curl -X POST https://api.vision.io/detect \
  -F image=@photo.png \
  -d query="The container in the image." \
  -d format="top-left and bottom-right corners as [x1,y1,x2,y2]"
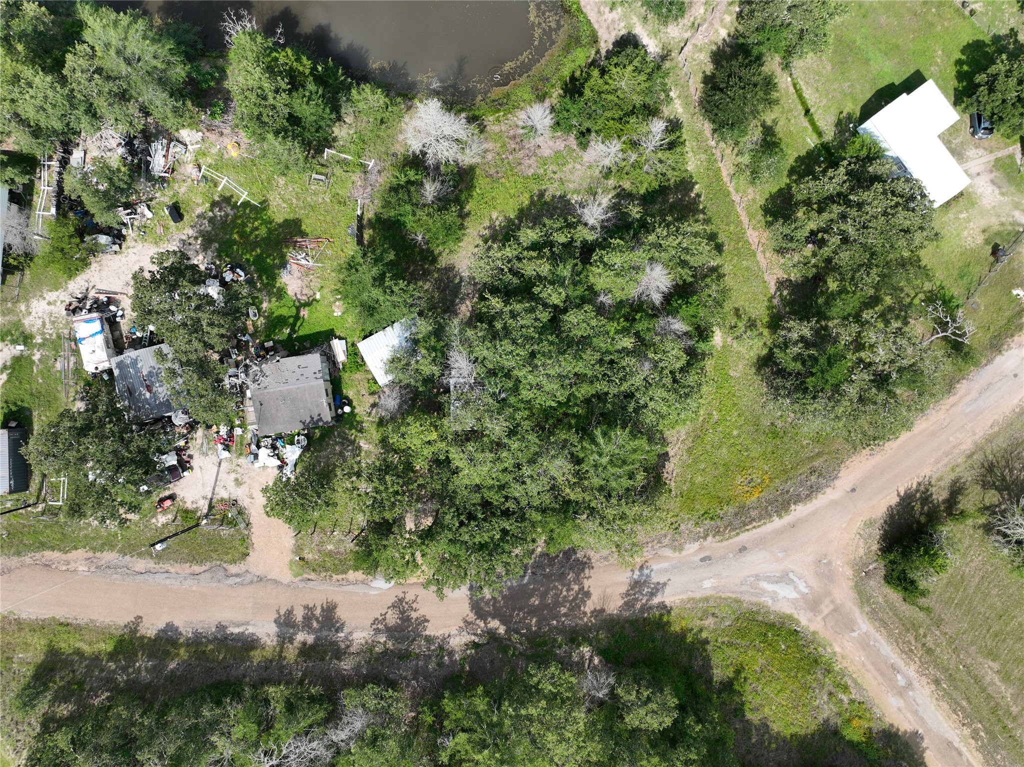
[0,427,28,496]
